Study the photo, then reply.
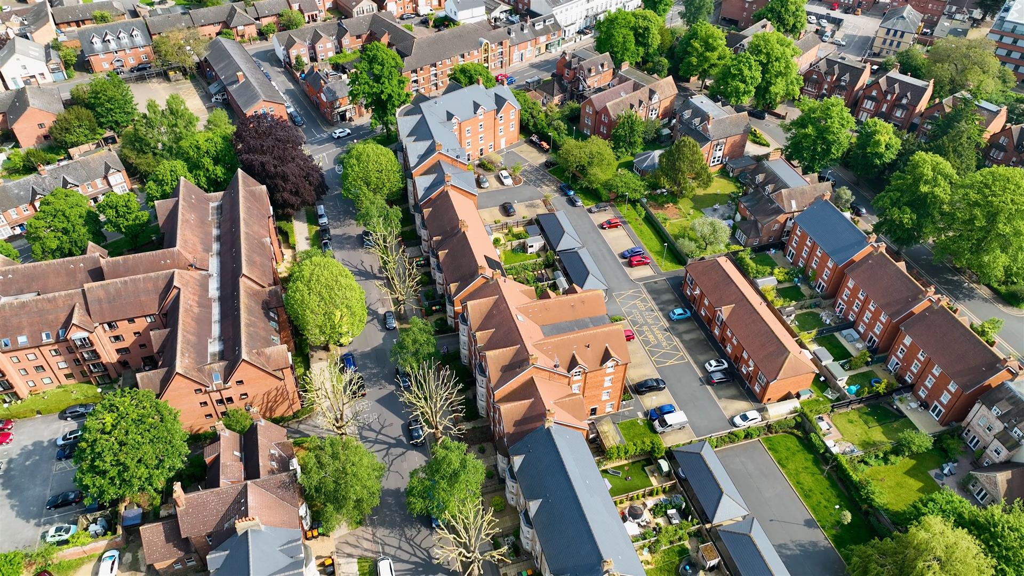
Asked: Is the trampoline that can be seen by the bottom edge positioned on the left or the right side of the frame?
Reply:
right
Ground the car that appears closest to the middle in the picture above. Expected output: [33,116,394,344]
[503,204,517,217]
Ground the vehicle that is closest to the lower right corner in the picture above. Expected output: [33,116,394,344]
[732,410,762,428]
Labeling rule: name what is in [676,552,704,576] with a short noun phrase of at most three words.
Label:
trampoline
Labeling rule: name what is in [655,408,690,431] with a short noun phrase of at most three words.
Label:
vehicle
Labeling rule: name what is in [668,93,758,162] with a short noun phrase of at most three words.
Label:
house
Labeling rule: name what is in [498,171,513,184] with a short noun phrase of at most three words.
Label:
vehicle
